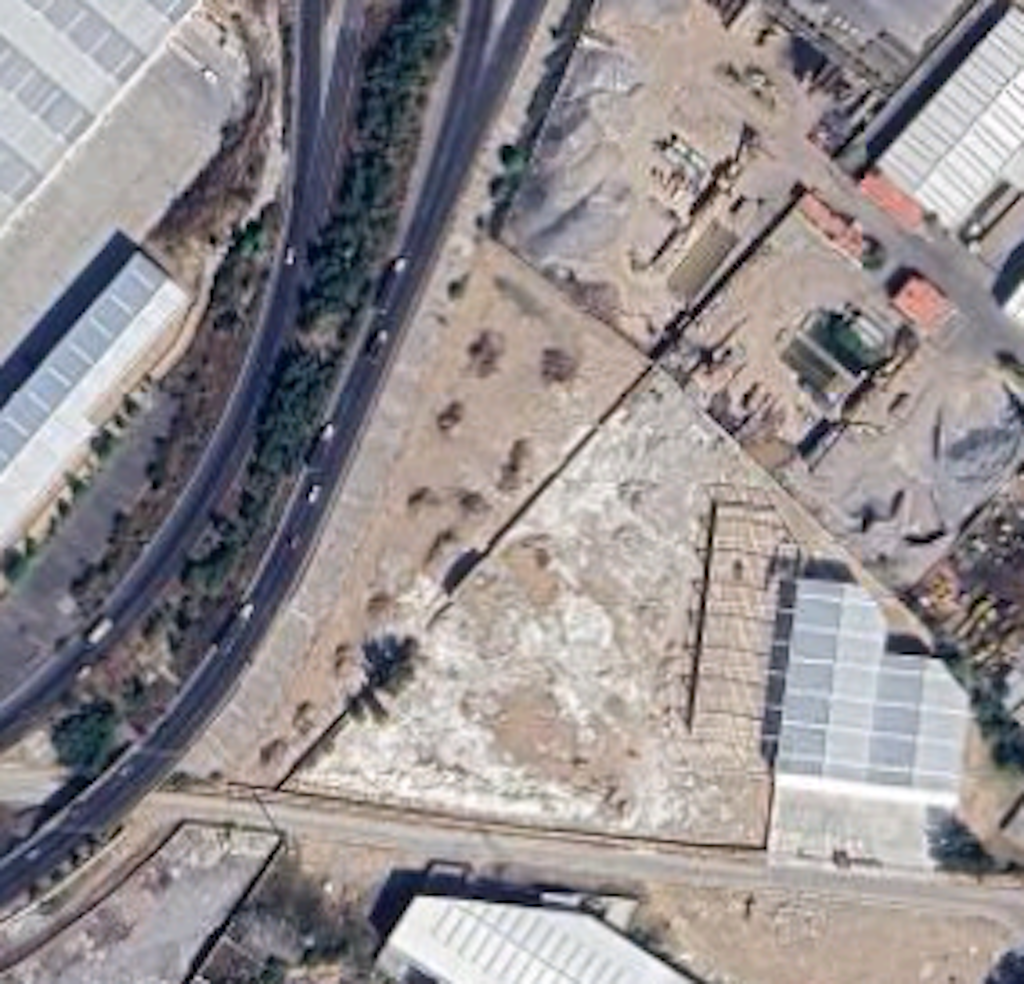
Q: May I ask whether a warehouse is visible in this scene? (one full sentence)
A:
Yes, the photo shows a warehouse.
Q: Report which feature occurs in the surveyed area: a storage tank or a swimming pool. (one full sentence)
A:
Visible in the photo is a storage tank.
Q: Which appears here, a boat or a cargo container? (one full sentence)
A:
I can see a cargo container in this picture.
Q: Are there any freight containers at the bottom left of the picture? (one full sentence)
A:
No, at the bottom left of the picture there is no freight container.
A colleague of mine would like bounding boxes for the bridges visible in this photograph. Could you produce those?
[0,741,188,900]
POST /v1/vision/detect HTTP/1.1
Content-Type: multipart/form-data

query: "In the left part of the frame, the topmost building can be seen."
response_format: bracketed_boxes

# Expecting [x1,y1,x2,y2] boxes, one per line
[0,0,202,233]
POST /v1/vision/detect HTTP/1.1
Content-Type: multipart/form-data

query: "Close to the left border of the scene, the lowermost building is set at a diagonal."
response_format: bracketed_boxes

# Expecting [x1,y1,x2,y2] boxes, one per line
[0,252,189,524]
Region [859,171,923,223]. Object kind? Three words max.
shed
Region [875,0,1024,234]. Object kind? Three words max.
warehouse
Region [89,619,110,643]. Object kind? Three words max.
truck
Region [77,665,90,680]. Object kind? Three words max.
vehicle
